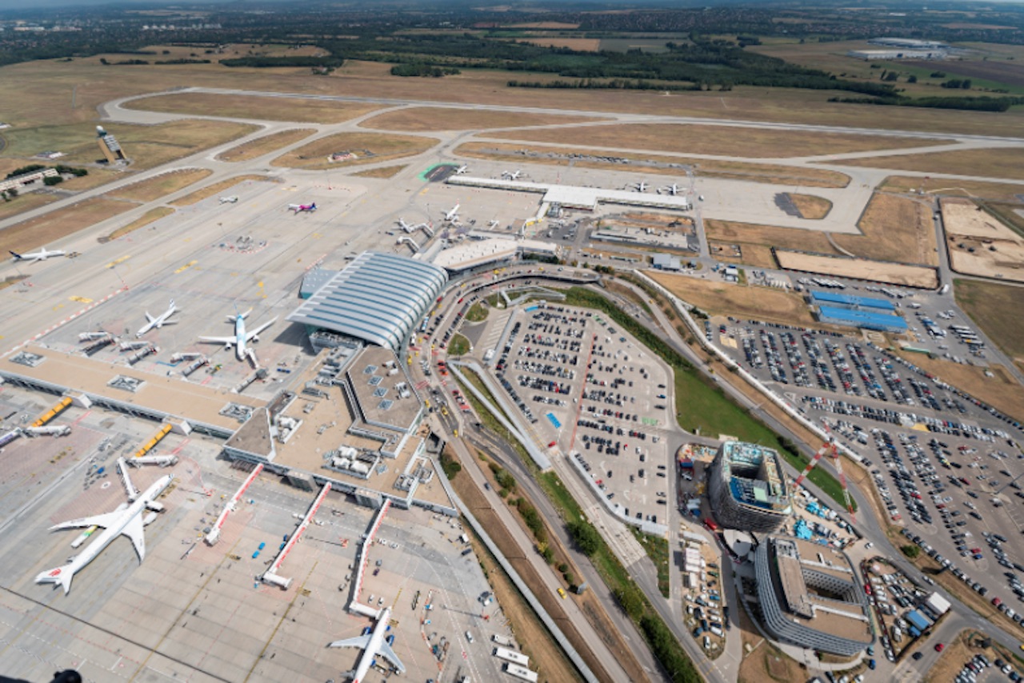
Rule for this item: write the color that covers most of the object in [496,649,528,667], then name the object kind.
white vehicle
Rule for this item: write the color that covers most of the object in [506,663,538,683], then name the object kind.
white vehicle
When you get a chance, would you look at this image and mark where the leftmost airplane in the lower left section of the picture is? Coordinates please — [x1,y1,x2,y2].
[39,475,173,589]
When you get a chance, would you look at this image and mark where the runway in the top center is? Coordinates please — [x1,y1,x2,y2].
[182,87,1024,144]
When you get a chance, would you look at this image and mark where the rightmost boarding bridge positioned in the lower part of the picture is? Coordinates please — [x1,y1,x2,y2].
[348,500,393,621]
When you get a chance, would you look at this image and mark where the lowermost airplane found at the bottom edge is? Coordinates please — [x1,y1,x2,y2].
[326,608,402,683]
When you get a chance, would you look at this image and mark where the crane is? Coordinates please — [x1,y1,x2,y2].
[793,418,857,524]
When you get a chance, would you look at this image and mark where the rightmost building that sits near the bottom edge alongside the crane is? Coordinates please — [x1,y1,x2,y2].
[750,537,877,658]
